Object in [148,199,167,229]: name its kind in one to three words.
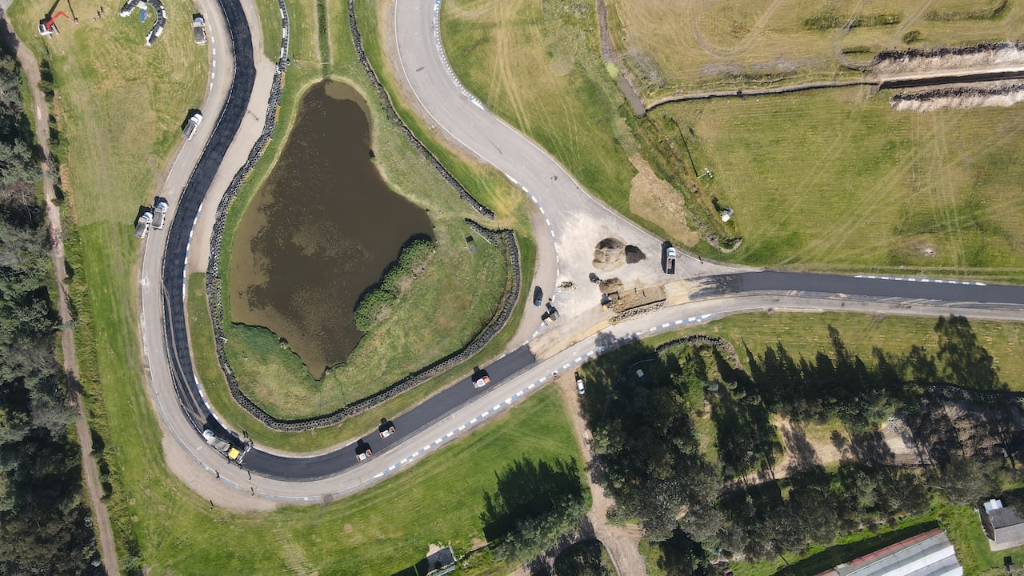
vehicle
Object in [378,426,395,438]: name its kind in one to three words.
vehicle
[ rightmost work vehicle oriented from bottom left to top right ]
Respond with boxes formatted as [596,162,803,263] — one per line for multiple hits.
[544,308,562,327]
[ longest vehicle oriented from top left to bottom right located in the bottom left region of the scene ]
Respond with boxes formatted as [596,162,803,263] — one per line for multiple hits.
[199,429,228,455]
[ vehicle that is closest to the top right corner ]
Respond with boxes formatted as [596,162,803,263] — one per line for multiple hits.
[664,244,676,273]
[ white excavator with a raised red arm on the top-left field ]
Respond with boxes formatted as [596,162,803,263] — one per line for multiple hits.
[38,16,76,40]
